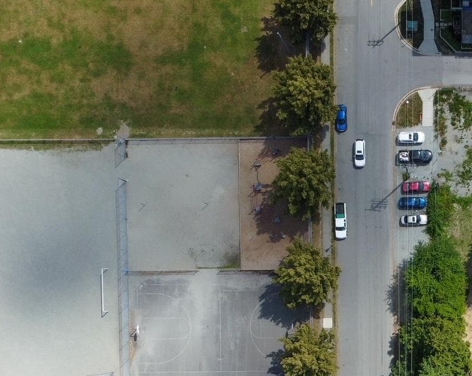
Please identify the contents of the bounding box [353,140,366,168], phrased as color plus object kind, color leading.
white vehicle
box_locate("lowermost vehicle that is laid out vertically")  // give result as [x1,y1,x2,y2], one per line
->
[334,203,347,239]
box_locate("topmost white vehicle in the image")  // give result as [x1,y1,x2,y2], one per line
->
[397,130,426,144]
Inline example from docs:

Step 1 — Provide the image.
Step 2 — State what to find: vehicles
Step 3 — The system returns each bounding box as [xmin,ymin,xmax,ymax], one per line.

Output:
[335,105,347,132]
[353,140,366,168]
[397,130,426,144]
[399,214,427,226]
[397,149,431,164]
[400,180,430,193]
[334,203,347,239]
[399,197,427,209]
